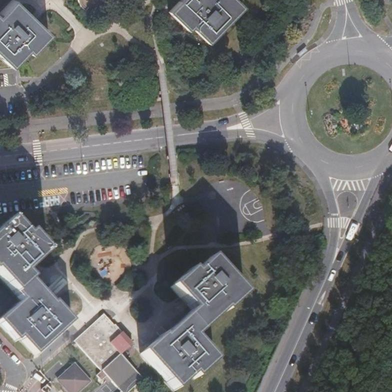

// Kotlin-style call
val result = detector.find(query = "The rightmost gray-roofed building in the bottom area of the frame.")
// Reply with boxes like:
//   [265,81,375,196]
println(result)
[144,250,254,384]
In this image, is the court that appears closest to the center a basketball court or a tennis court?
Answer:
basketball court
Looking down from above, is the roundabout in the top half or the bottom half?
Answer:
top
